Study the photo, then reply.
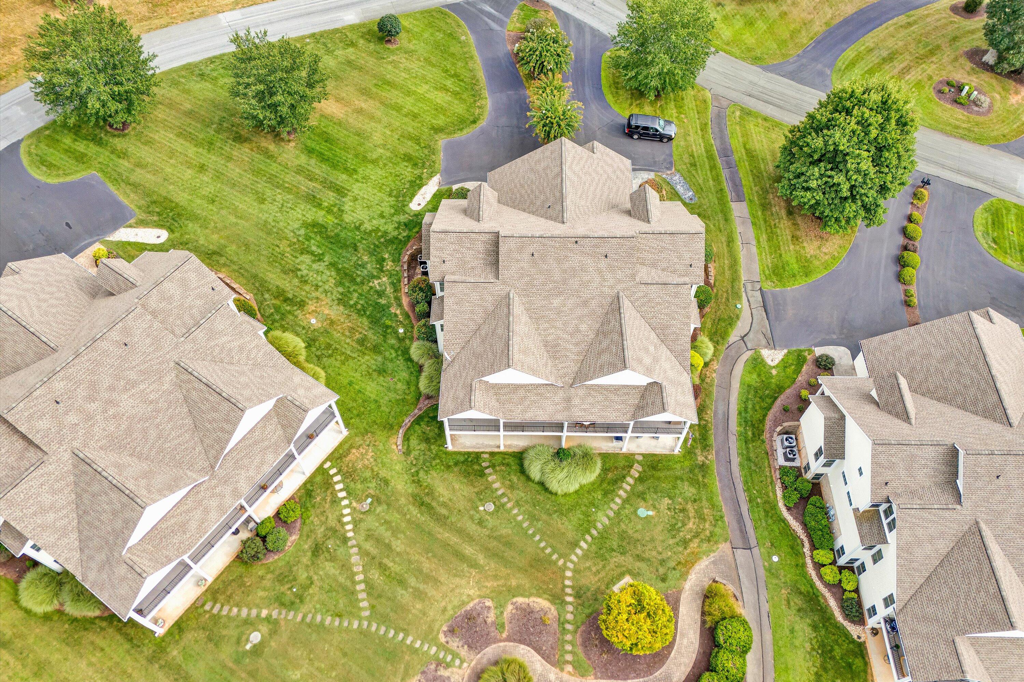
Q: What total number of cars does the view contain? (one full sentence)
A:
The picture shows 1 car.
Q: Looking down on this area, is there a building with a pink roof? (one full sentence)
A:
No, the scene contains no building with a pink roof.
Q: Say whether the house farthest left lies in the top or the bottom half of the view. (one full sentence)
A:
The house farthest left sits in the bottom half of the picture.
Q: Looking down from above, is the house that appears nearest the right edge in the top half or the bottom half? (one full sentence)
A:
The house that appears nearest the right edge sits in the bottom half of the picture.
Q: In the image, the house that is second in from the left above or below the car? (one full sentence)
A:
Within the scene, the house that is second in from the left can be found below the car.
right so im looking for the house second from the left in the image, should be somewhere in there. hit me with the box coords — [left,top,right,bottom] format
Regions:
[421,137,706,456]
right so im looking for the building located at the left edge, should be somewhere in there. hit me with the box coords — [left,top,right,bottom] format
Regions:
[0,249,352,641]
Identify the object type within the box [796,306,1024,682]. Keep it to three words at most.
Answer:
house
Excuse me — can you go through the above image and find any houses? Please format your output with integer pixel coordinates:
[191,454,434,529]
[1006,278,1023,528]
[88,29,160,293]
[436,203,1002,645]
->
[0,249,352,641]
[796,306,1024,682]
[421,137,706,456]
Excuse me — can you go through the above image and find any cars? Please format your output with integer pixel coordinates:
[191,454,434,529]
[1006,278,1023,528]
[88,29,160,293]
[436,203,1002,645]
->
[623,113,677,144]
